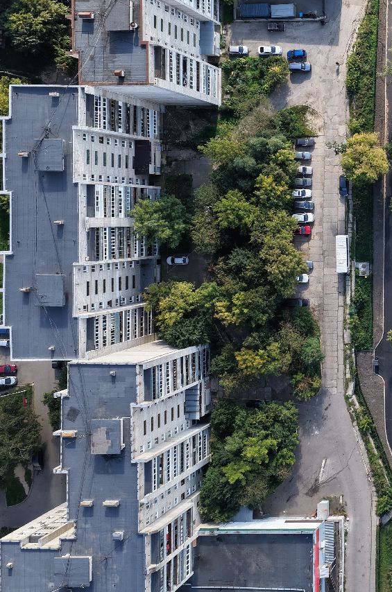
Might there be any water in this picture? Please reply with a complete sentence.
No, there is no water in the image.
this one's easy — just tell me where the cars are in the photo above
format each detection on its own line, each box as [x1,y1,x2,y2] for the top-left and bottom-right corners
[0,364,19,373]
[258,44,282,55]
[167,255,190,266]
[293,188,315,198]
[289,273,310,282]
[301,260,315,269]
[294,136,317,147]
[0,326,11,337]
[287,47,307,58]
[294,149,314,160]
[292,176,314,187]
[289,62,312,71]
[0,338,11,348]
[338,176,349,196]
[295,165,315,175]
[293,212,315,223]
[292,226,314,235]
[0,376,19,384]
[293,201,316,210]
[227,44,249,54]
